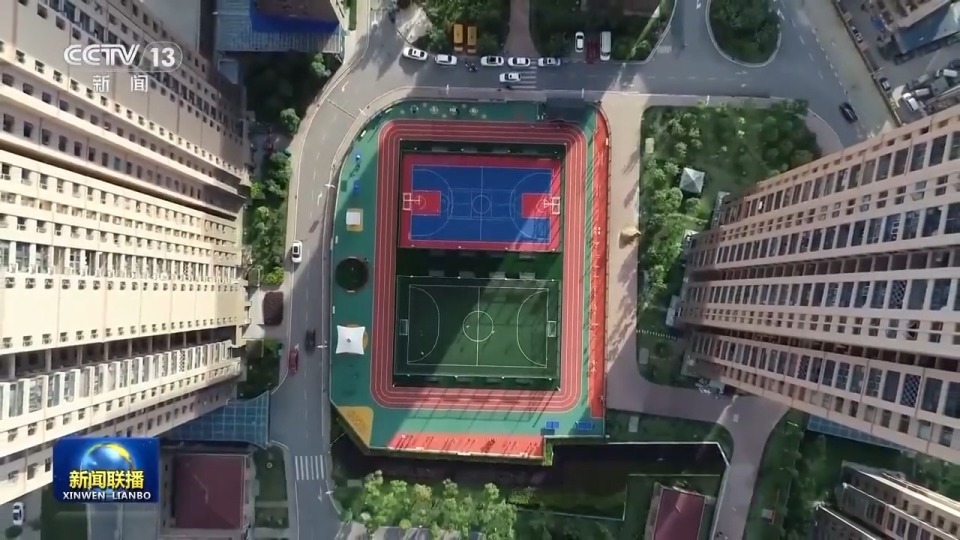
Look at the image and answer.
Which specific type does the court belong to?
basketball court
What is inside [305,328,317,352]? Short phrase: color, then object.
black vehicle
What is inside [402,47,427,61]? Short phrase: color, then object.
white car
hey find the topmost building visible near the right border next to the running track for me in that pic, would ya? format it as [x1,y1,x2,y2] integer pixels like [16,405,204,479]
[684,105,960,472]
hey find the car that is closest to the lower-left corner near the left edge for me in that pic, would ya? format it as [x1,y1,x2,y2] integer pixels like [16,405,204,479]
[11,501,25,524]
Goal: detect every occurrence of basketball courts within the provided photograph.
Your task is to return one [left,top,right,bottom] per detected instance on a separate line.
[399,152,562,251]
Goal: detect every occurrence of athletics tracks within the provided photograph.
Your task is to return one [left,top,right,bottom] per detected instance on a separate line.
[371,121,585,412]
